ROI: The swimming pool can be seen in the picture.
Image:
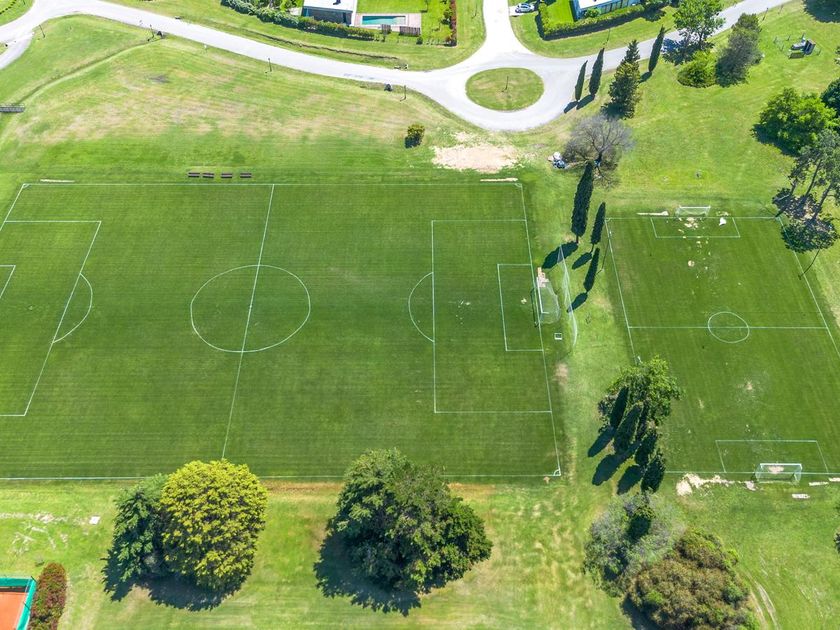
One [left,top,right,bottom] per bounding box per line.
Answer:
[355,13,421,32]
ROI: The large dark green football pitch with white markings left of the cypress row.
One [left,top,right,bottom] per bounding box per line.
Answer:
[0,182,571,483]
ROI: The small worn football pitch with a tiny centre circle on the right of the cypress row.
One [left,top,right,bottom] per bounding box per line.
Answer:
[602,214,840,491]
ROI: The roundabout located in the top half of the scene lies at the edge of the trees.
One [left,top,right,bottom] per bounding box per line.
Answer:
[441,55,568,126]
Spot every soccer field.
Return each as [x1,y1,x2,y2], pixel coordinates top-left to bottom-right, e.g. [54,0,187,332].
[602,214,840,491]
[0,182,571,483]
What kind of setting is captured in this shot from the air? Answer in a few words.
sports ground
